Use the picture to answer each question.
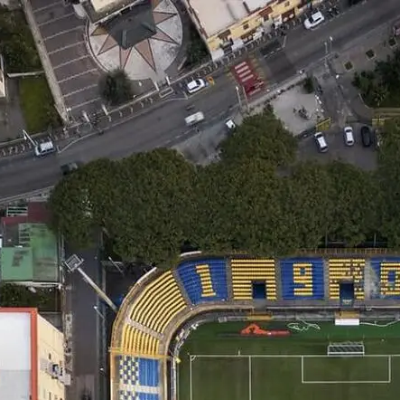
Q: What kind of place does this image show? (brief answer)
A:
sports ground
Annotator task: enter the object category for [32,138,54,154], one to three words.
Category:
car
